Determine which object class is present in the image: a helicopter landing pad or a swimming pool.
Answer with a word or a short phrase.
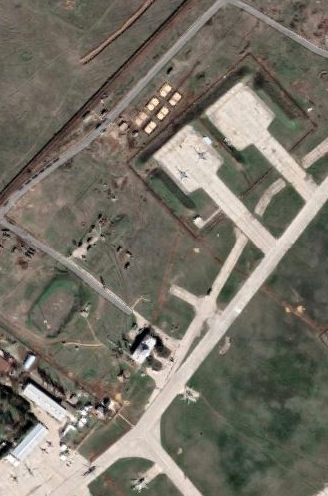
helicopter landing pad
